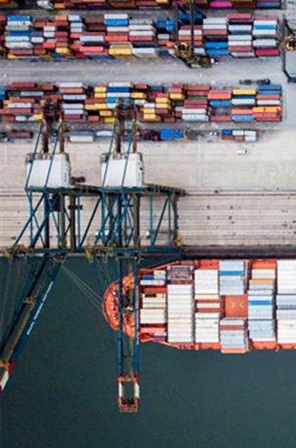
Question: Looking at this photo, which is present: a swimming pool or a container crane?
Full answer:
The image shows a container crane.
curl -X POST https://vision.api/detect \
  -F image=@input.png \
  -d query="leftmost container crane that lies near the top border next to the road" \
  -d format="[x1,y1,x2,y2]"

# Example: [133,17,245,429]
[173,3,212,72]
